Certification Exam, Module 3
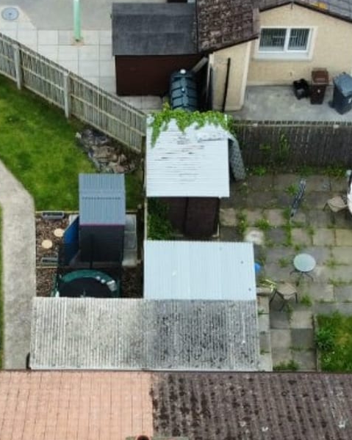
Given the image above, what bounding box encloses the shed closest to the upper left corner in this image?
[114,1,203,94]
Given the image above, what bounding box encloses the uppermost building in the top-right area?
[200,0,352,109]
